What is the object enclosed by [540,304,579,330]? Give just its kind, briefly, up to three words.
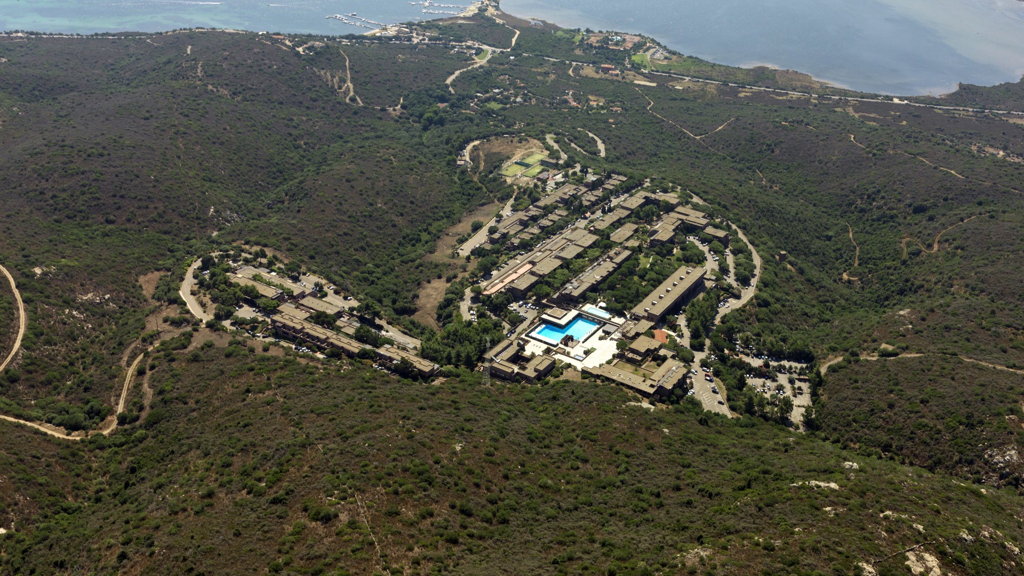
building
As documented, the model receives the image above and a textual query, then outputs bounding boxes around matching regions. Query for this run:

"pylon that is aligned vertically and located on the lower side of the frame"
[479,344,493,382]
